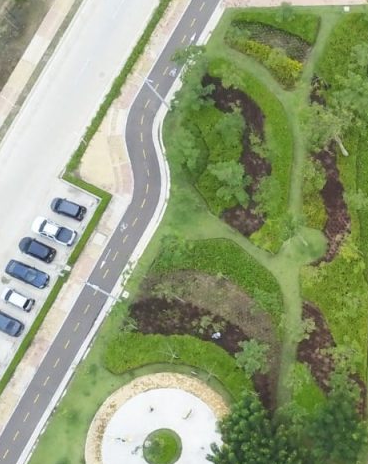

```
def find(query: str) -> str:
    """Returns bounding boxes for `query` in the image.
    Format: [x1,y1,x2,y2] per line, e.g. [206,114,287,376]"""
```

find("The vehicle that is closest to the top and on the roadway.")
[51,198,89,222]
